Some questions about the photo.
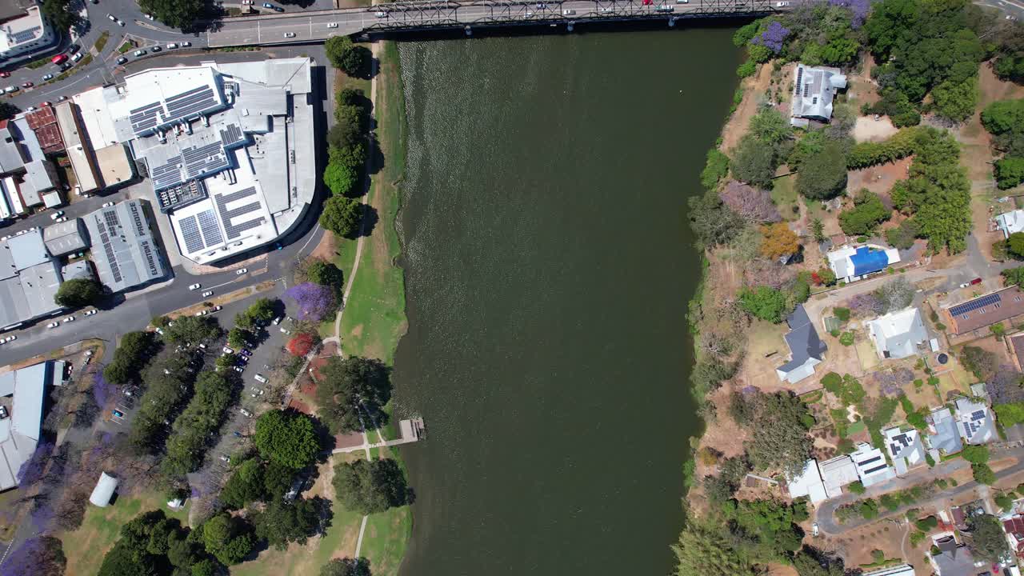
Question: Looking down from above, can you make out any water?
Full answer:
Yes, there's water in this view.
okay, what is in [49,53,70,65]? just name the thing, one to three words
vehicle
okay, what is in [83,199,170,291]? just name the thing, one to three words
building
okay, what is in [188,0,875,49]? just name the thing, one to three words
bridge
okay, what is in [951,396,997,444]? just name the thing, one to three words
house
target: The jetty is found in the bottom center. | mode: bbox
[395,417,424,444]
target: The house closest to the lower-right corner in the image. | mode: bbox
[996,508,1024,565]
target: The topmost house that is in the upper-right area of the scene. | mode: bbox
[788,66,847,127]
